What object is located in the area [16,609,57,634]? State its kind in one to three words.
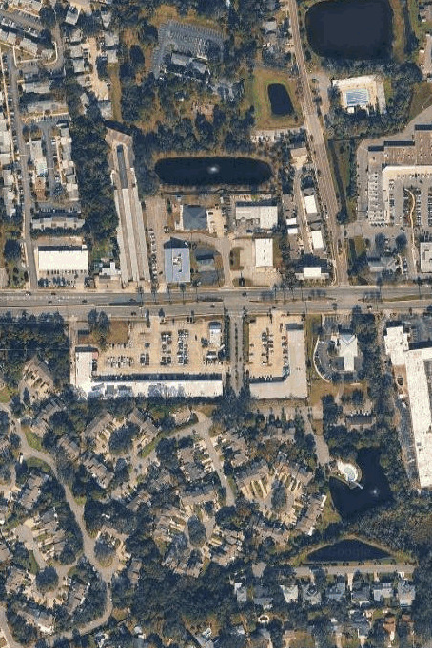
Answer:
building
